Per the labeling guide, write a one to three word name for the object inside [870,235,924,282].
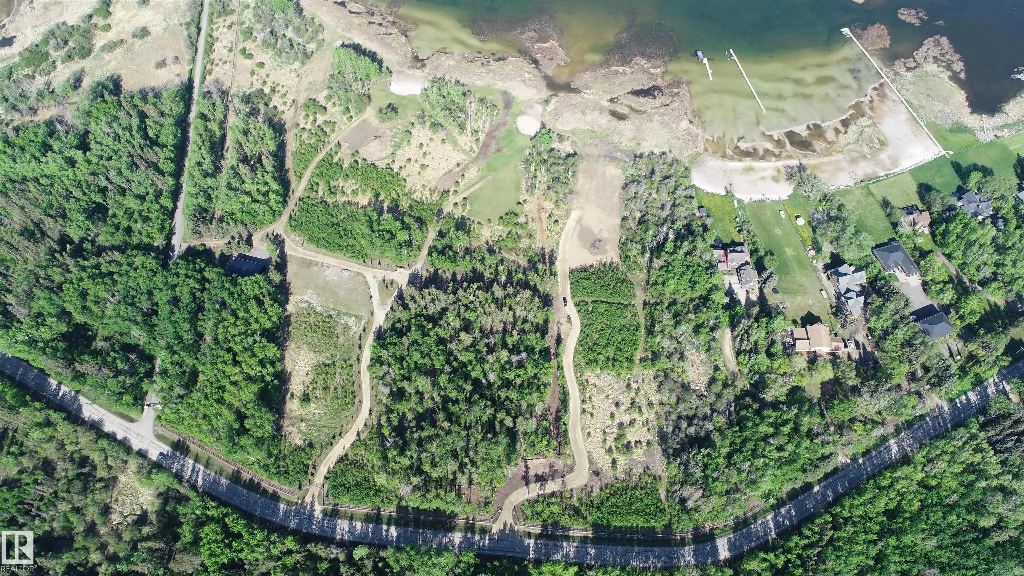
house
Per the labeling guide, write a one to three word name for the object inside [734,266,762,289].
building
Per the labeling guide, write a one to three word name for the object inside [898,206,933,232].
house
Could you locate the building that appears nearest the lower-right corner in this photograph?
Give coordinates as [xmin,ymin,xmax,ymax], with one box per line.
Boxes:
[914,310,957,345]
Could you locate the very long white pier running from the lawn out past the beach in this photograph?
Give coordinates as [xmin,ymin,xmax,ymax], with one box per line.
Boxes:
[840,30,949,158]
